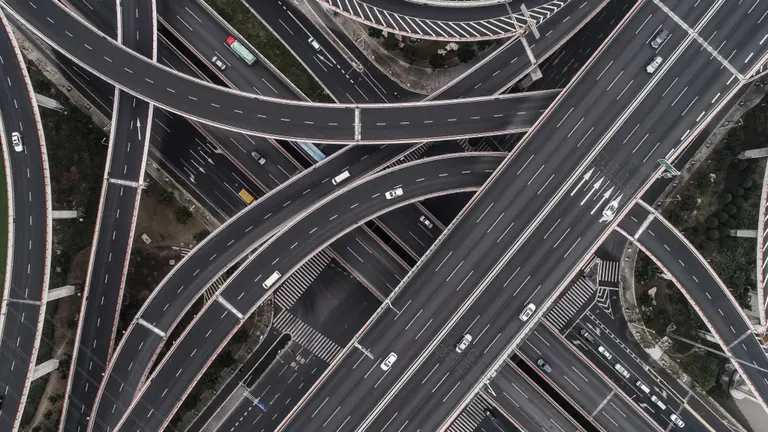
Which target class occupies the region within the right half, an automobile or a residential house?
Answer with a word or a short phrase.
automobile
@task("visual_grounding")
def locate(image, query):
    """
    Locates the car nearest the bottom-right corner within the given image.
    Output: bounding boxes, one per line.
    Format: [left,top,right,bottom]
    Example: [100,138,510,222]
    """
[670,413,687,429]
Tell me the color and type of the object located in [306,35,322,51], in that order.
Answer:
white car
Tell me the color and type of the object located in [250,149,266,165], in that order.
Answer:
gray car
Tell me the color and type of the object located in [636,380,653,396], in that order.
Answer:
white vehicle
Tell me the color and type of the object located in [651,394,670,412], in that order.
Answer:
white vehicle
